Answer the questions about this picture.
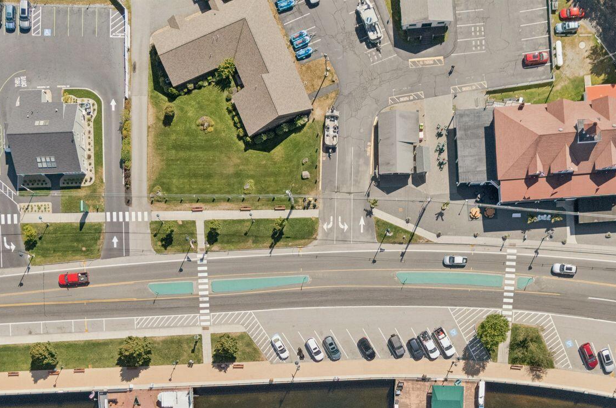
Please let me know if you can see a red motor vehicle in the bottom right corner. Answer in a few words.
Yes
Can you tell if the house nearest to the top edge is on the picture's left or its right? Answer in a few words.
right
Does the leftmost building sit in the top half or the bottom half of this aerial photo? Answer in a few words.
top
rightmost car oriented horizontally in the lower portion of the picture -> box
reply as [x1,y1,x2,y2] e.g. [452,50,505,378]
[550,263,578,276]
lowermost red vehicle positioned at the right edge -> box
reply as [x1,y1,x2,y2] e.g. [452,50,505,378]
[579,341,596,370]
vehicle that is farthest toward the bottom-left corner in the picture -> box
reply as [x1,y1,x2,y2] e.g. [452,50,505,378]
[59,271,91,285]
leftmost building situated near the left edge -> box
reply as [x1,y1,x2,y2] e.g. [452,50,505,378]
[4,90,84,175]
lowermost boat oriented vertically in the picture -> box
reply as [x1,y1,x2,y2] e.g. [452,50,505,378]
[325,108,339,155]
